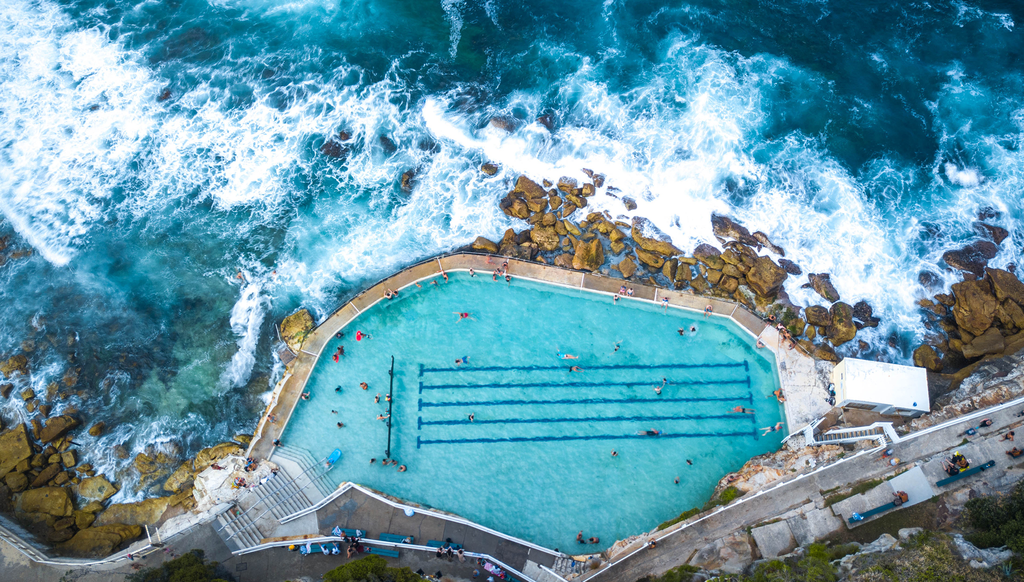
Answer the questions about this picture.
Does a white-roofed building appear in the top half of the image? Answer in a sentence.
No, I see no white-roofed building in the top half of the image.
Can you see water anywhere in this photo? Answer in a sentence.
Yes, some water is visible.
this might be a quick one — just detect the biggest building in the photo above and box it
[831,358,930,418]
